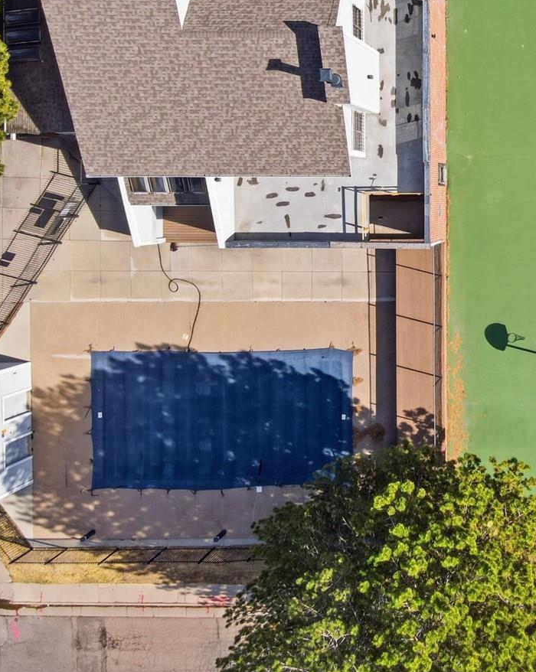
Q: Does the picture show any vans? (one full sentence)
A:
No, I can't see a single van in this photo.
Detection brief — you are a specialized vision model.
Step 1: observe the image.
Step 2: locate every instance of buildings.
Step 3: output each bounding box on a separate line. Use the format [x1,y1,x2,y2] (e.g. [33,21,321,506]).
[39,0,446,252]
[0,361,35,496]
